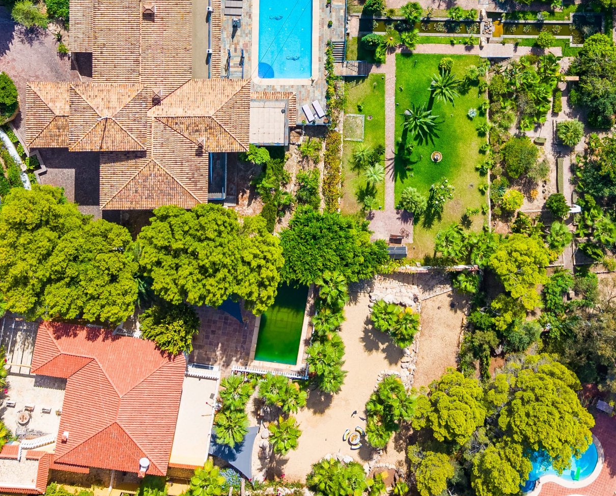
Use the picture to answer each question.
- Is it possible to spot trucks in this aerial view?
No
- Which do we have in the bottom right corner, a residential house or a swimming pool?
swimming pool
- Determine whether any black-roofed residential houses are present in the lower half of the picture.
No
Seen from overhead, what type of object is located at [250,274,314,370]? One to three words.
swimming pool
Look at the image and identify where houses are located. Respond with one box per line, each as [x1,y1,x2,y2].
[30,318,223,496]
[24,0,296,210]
